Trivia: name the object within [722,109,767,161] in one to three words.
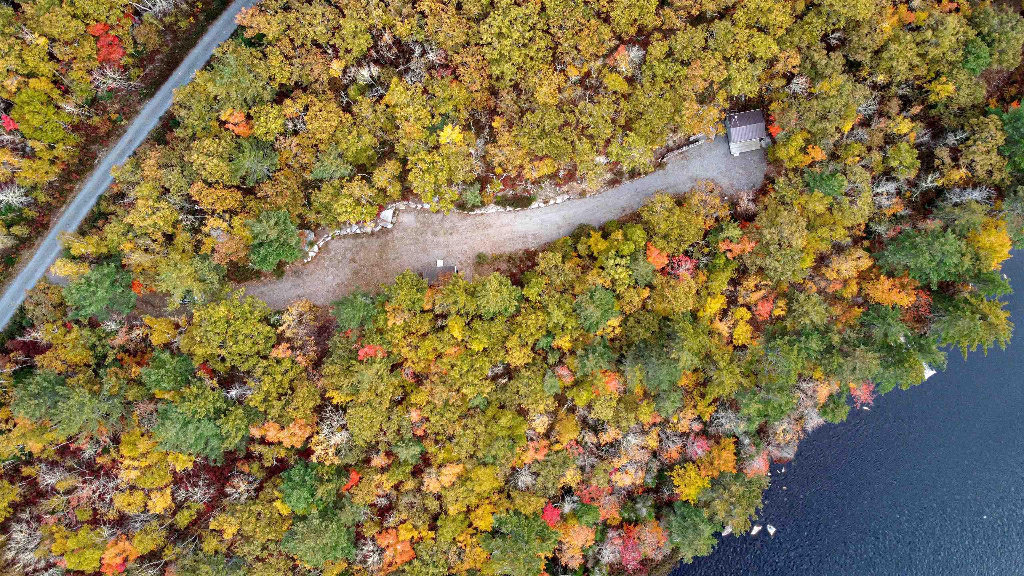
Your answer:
building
